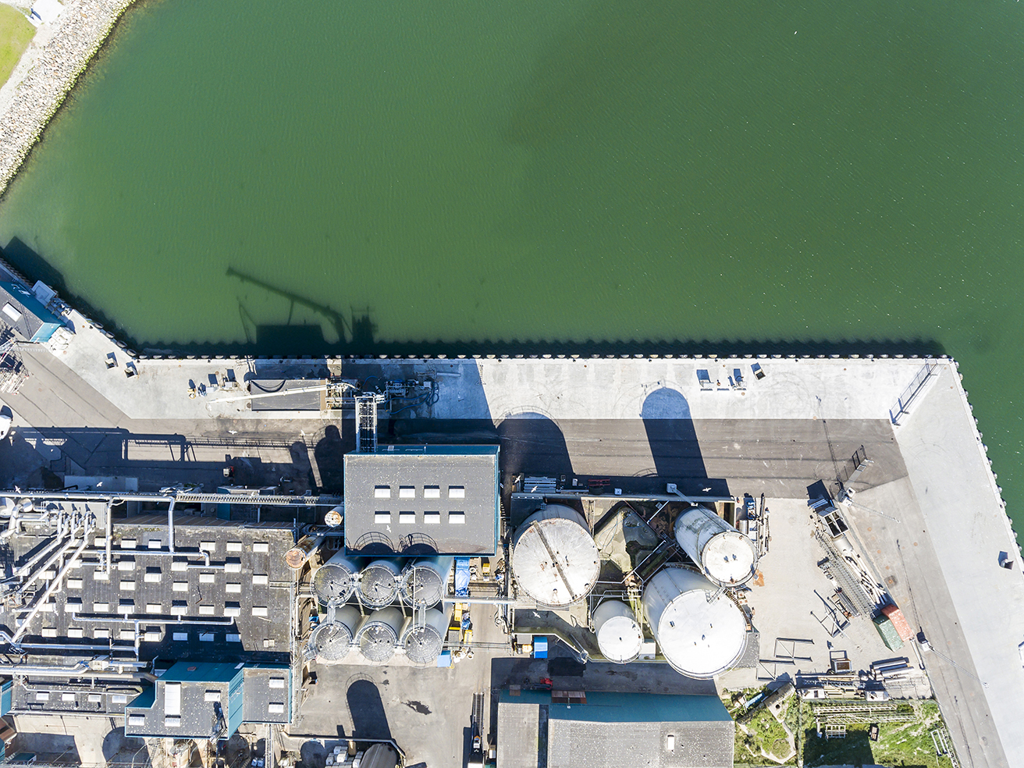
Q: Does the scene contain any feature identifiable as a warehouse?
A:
Yes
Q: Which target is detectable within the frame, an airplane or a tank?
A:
tank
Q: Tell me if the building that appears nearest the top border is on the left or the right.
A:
left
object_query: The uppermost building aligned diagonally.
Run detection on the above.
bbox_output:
[0,283,66,342]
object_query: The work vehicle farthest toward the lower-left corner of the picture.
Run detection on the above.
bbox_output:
[223,461,237,476]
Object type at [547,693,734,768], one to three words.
building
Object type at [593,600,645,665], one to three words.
storage tank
